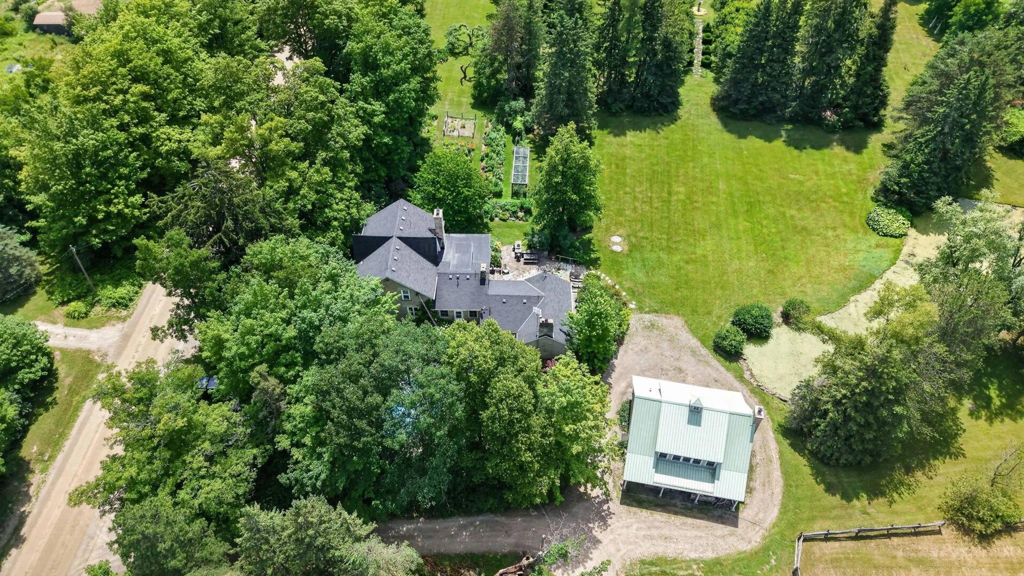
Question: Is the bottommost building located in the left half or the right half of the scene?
right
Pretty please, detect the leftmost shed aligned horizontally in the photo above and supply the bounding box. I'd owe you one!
[30,10,93,39]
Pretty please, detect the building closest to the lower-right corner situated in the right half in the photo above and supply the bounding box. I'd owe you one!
[622,375,762,513]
